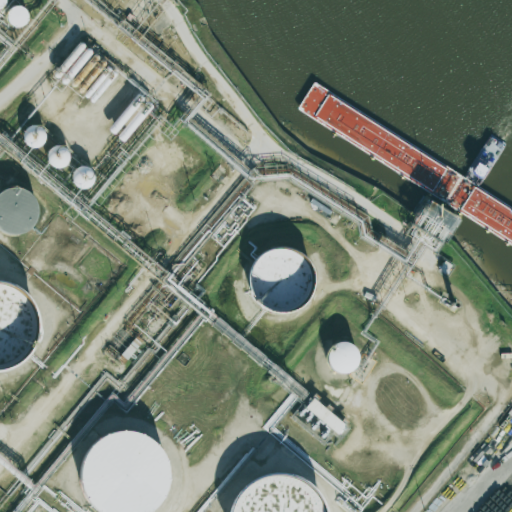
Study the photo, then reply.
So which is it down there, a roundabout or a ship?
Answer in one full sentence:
This aerial view contains a ship.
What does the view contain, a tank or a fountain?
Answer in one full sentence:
Of the two, only a tank appears.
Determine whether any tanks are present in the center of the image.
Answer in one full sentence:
Yes, a tank shows up in the center of the image.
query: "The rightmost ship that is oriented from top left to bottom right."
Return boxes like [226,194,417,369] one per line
[450,177,512,239]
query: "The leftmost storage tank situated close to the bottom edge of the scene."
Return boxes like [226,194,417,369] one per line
[81,426,174,512]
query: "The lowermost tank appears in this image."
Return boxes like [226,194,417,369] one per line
[232,469,328,512]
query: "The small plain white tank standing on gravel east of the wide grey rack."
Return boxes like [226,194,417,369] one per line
[326,338,361,376]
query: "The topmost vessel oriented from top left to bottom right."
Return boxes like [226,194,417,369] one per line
[300,86,461,200]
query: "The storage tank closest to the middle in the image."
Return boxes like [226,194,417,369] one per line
[248,246,316,314]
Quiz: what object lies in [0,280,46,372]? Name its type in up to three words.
storage tank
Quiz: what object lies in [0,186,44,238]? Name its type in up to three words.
storage tank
